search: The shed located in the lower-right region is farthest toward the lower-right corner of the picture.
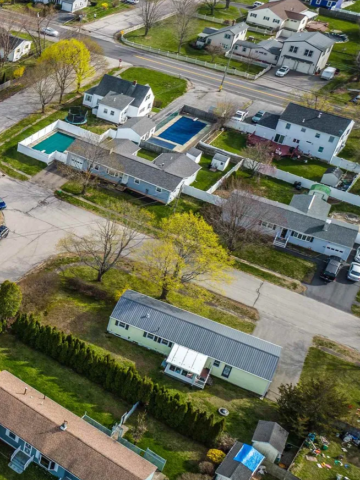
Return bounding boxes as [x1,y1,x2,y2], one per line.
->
[251,421,288,465]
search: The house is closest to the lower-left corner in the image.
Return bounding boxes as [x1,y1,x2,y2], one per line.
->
[0,370,159,480]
